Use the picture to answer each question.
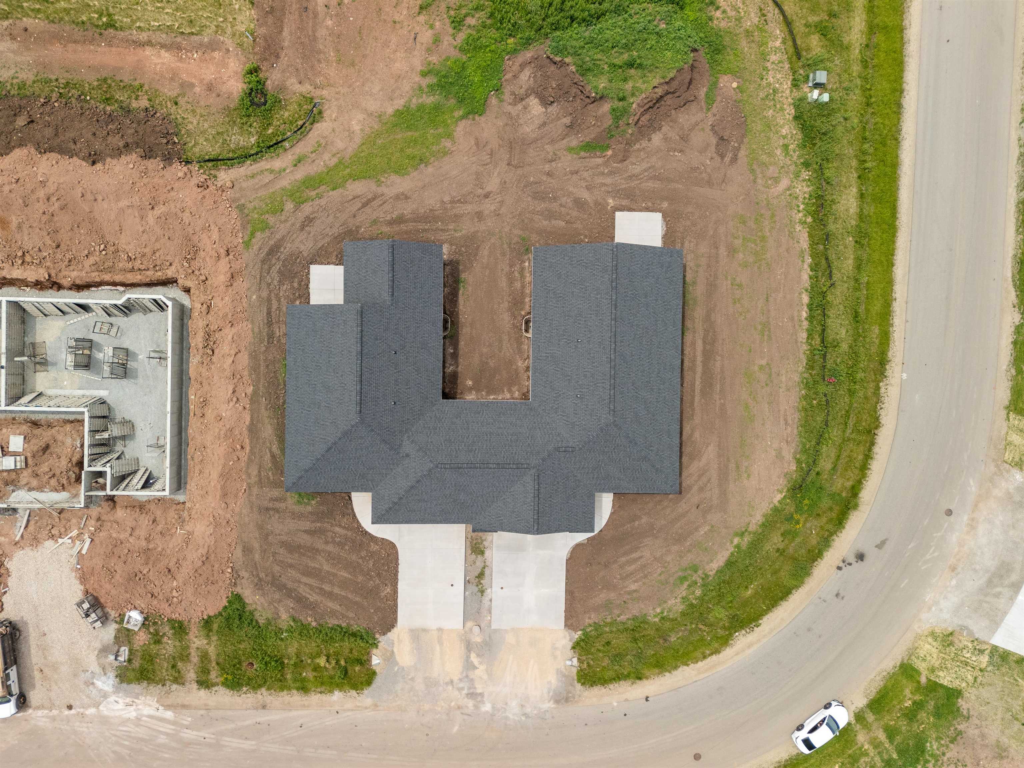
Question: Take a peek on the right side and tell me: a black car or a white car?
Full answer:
The feature located on the right side is a white car.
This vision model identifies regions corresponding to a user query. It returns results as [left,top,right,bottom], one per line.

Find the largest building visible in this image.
[284,240,683,536]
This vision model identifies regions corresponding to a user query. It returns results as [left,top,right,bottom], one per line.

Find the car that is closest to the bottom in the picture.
[794,702,850,753]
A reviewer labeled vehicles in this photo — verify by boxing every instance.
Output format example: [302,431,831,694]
[794,702,850,753]
[0,613,24,718]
